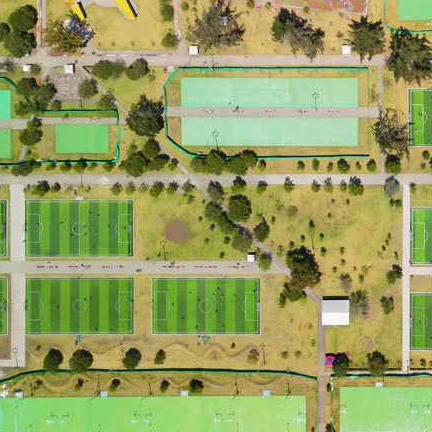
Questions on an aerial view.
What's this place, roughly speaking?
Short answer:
sports ground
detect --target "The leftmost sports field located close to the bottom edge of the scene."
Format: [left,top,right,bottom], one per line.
[0,396,306,432]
